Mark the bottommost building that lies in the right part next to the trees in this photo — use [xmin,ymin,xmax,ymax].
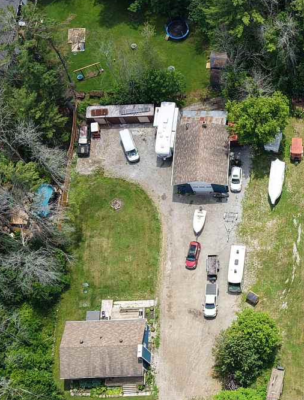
[173,126,229,193]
